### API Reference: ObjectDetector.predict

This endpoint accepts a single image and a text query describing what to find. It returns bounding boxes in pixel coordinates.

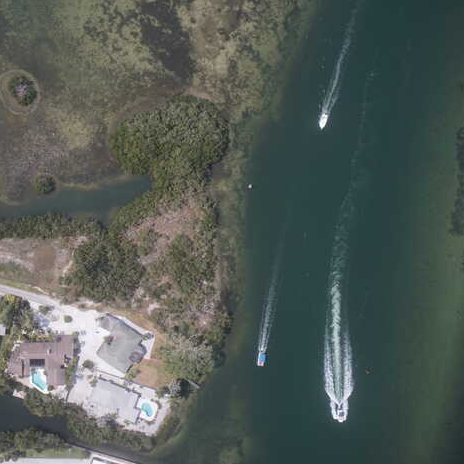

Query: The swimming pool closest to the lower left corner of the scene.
[32,370,47,391]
